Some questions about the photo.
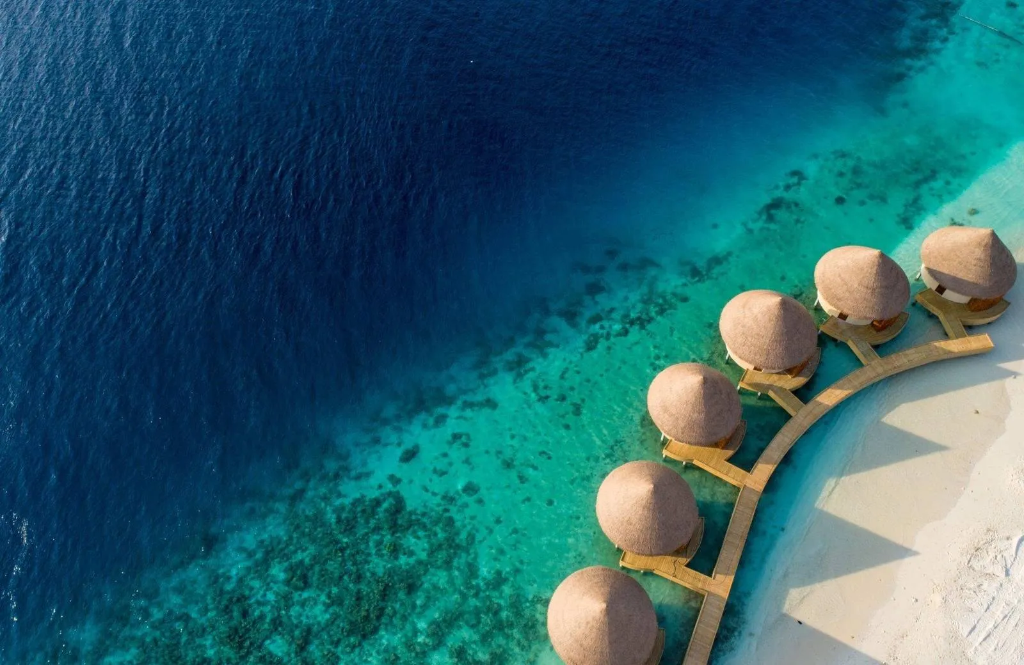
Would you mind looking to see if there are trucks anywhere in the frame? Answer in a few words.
No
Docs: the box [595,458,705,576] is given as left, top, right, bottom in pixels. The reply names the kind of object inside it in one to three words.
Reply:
shed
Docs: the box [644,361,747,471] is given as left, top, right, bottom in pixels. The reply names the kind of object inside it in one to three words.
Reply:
shed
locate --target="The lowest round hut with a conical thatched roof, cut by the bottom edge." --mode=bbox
[548,565,664,665]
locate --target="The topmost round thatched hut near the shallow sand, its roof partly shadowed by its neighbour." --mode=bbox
[911,224,1018,325]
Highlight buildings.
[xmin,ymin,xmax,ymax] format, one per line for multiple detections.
[644,361,747,471]
[721,289,821,402]
[813,245,910,350]
[548,565,664,665]
[595,458,705,576]
[911,224,1018,325]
